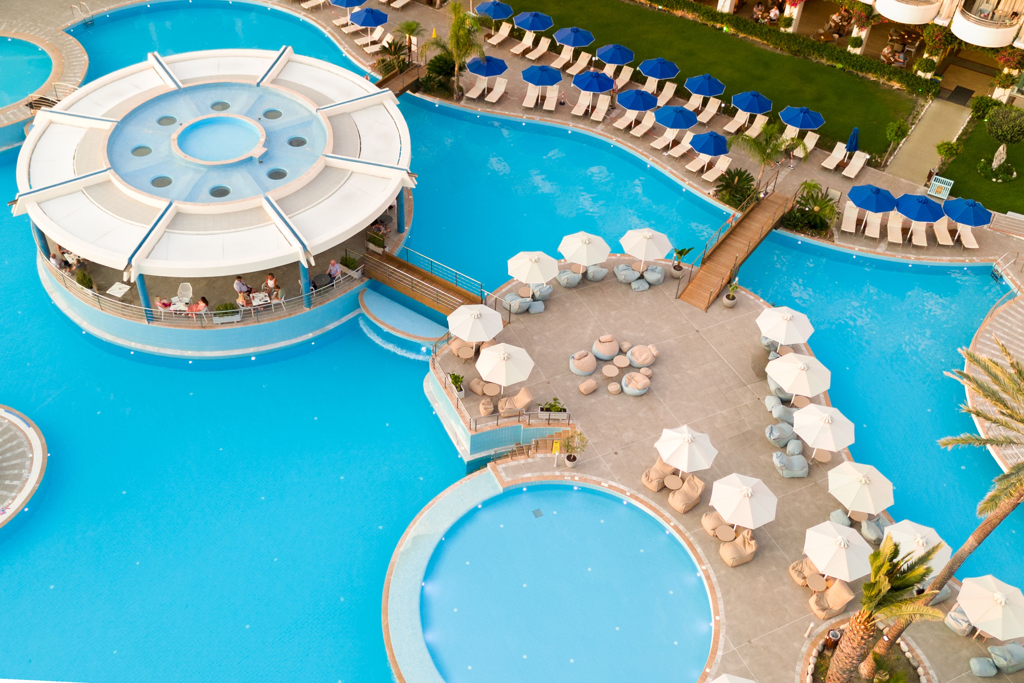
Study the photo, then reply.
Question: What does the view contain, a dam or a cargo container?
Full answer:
The one in the frame is a dam.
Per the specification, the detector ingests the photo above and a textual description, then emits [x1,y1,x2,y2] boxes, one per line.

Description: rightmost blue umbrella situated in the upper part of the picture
[942,198,991,245]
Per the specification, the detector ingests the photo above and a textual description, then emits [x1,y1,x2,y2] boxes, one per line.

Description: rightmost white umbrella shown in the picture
[958,576,1024,644]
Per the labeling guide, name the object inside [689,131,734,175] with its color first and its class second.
blue umbrella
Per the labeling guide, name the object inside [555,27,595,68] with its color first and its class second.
blue umbrella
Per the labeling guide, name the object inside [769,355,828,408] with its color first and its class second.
white umbrella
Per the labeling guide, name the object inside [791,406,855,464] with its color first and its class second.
white umbrella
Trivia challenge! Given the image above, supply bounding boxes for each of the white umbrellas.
[758,308,810,355]
[802,522,873,584]
[449,304,506,360]
[958,576,1024,644]
[559,234,611,285]
[509,251,561,303]
[791,406,855,464]
[769,355,828,408]
[656,424,719,480]
[621,229,672,279]
[824,464,890,524]
[711,475,779,534]
[477,344,535,397]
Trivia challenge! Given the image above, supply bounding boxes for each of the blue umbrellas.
[467,58,508,79]
[615,89,658,132]
[514,12,553,52]
[689,131,734,175]
[574,73,615,115]
[779,107,824,142]
[734,92,773,131]
[596,45,636,81]
[350,7,390,34]
[684,75,726,116]
[654,106,698,150]
[330,0,365,25]
[522,66,564,109]
[841,128,858,171]
[476,0,515,24]
[896,195,943,242]
[640,57,682,98]
[848,185,897,232]
[555,27,595,68]
[942,198,991,245]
